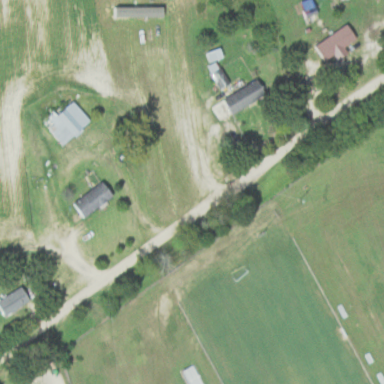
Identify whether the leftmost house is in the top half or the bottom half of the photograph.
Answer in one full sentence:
The leftmost house is in the bottom half of the image.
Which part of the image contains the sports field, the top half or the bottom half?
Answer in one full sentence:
You can find the sports field in the bottom half.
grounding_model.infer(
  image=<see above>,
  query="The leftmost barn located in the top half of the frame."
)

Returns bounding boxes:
[42,103,88,148]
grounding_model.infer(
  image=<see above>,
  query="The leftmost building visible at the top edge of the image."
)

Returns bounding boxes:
[114,4,163,22]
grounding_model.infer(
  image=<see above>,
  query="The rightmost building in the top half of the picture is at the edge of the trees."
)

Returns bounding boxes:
[316,25,356,58]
